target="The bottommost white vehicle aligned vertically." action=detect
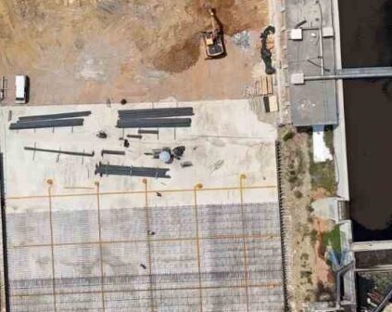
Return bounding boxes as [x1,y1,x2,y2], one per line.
[14,74,27,102]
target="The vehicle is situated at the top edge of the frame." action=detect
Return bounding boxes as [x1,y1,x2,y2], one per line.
[203,7,227,64]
